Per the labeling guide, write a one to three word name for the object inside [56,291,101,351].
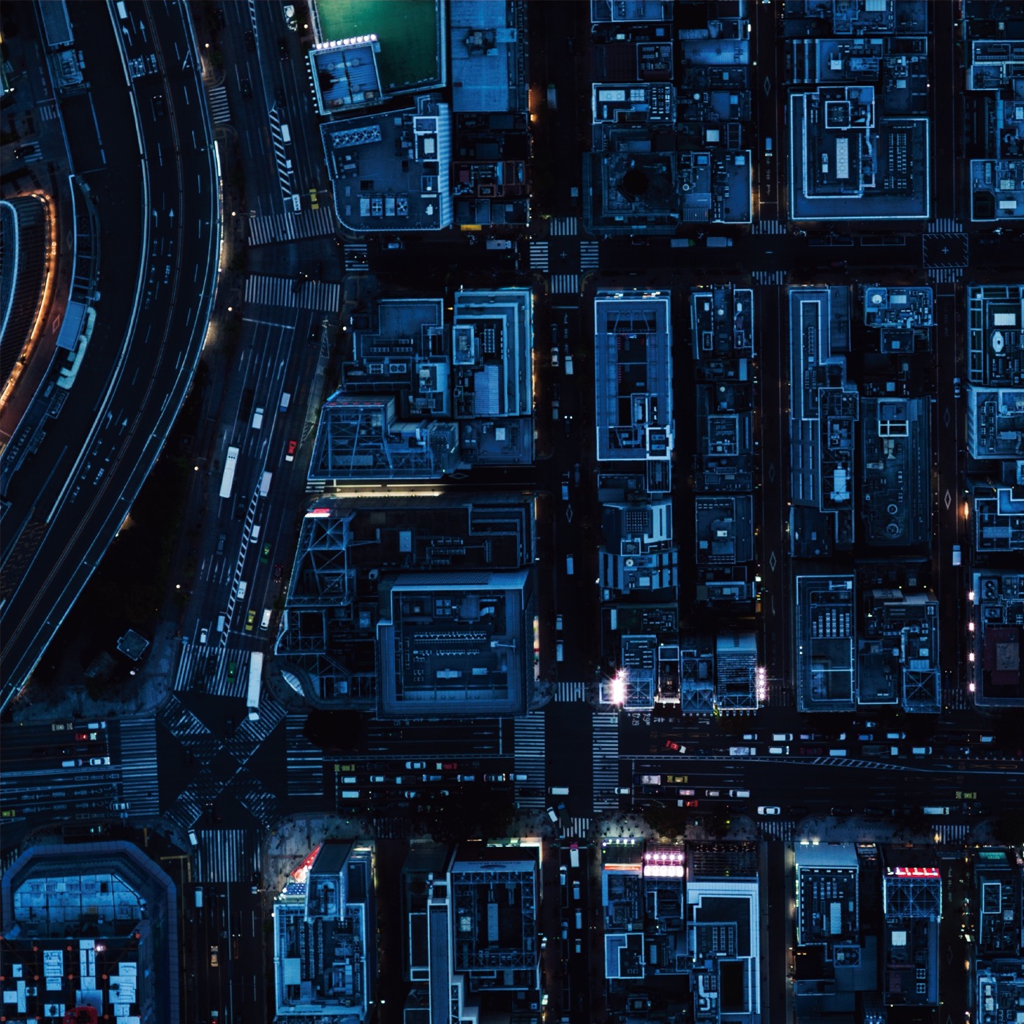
shed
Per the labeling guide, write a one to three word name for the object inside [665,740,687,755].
car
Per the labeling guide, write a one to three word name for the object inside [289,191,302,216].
vehicle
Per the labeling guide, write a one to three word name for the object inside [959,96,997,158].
building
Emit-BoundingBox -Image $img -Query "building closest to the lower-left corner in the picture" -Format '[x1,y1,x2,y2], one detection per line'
[0,829,187,1024]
